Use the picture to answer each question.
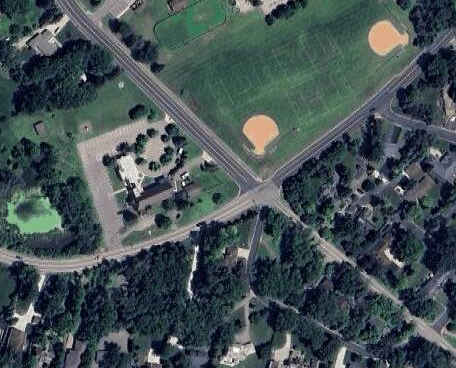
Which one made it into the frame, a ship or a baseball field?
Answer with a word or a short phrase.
baseball field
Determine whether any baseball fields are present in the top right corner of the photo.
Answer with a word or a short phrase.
Yes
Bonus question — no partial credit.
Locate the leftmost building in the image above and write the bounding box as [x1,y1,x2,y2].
[7,324,24,353]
